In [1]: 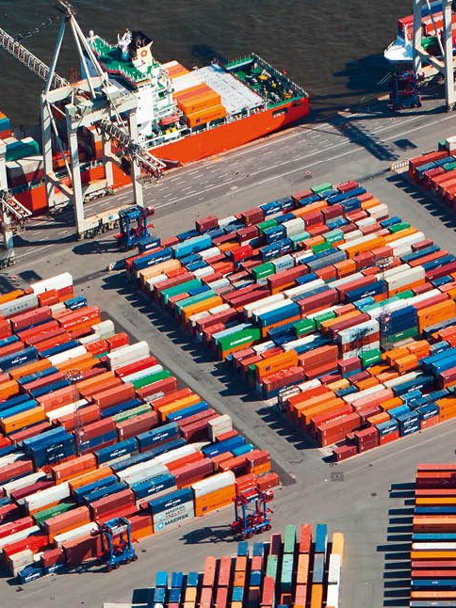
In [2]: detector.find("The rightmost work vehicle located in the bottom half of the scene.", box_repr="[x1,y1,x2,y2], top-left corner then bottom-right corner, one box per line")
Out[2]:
[237,478,286,537]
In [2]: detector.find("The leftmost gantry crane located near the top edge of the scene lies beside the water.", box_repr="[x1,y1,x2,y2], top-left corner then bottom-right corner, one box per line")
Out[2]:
[0,0,173,240]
